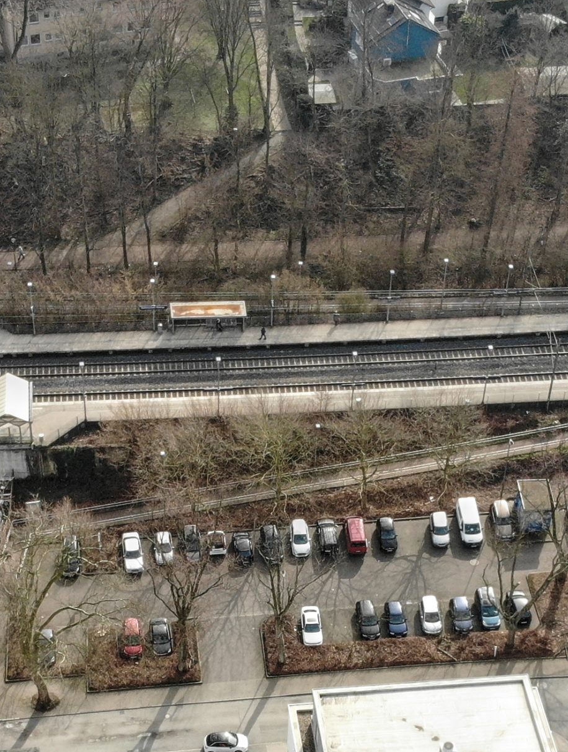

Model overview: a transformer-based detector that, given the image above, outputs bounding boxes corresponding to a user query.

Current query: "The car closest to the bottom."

[201,730,248,752]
